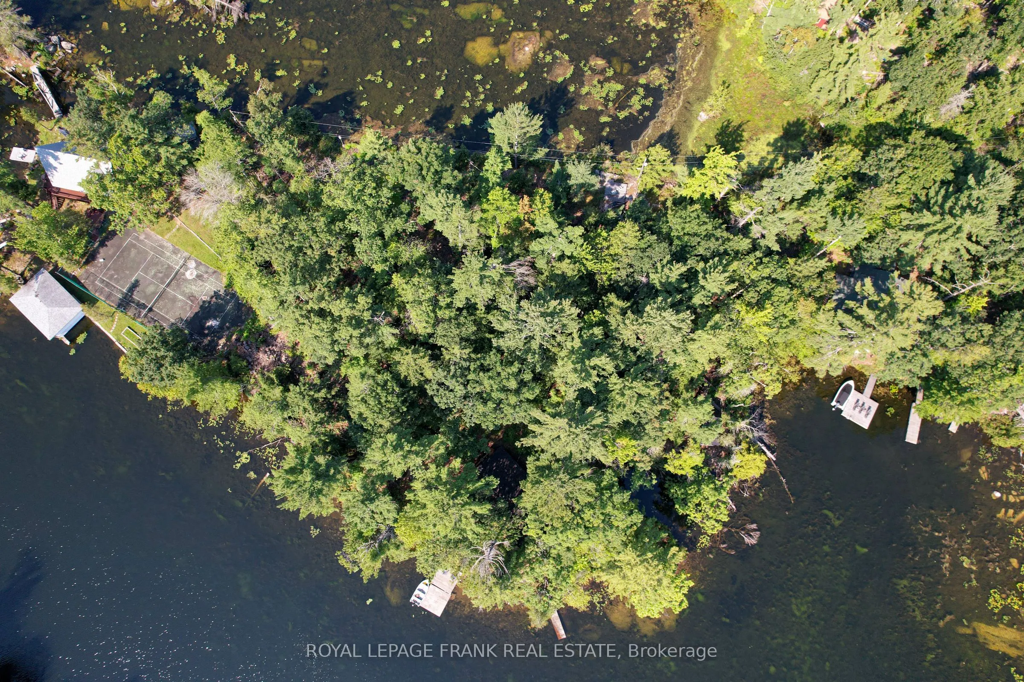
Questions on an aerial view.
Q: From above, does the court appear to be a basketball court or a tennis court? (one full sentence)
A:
The court appears to be a tennis court.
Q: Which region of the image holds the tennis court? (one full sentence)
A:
The tennis court is located in the left region of the scene.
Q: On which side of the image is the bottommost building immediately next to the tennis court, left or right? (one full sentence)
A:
The bottommost building immediately next to the tennis court appears in the left half of the scene.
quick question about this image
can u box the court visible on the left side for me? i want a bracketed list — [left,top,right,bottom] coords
[78,224,246,354]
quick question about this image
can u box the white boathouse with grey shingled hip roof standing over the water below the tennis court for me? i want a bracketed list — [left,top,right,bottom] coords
[9,267,87,342]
